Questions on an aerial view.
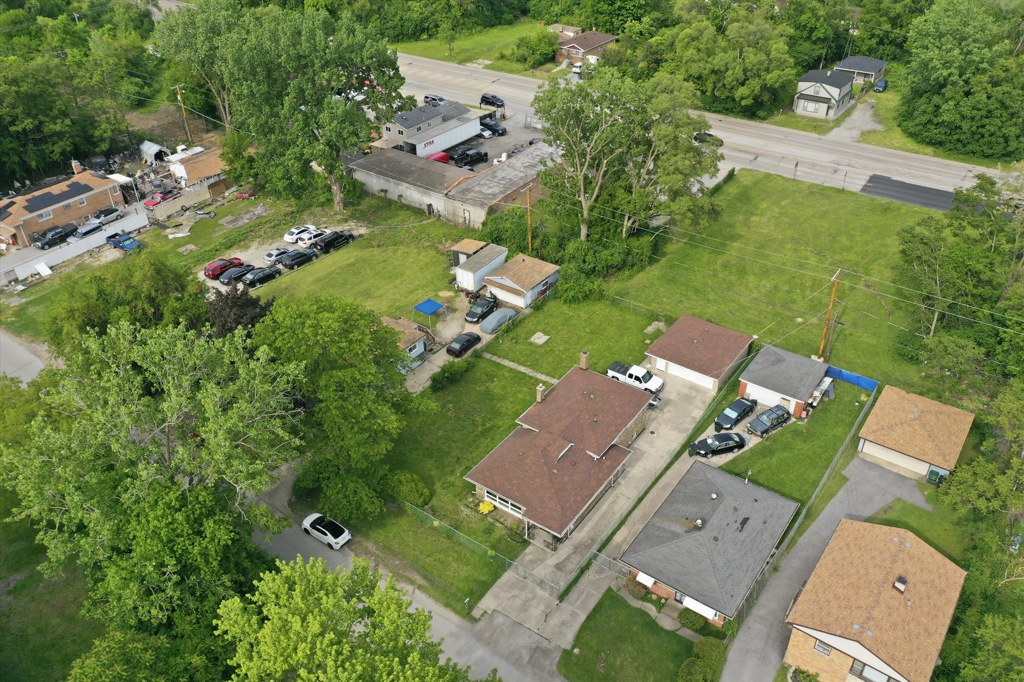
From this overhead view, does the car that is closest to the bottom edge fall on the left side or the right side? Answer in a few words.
left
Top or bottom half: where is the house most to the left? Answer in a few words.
top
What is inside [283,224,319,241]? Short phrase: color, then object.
white car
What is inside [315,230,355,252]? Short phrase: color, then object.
black car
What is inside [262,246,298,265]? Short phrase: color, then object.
gray car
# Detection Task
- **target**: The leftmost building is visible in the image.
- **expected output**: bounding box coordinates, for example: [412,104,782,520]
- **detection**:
[0,158,123,250]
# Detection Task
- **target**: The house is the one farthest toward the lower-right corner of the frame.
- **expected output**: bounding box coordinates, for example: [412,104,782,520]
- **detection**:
[782,518,969,682]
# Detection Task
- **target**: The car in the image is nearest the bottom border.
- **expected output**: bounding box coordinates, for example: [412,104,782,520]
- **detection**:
[300,513,351,548]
